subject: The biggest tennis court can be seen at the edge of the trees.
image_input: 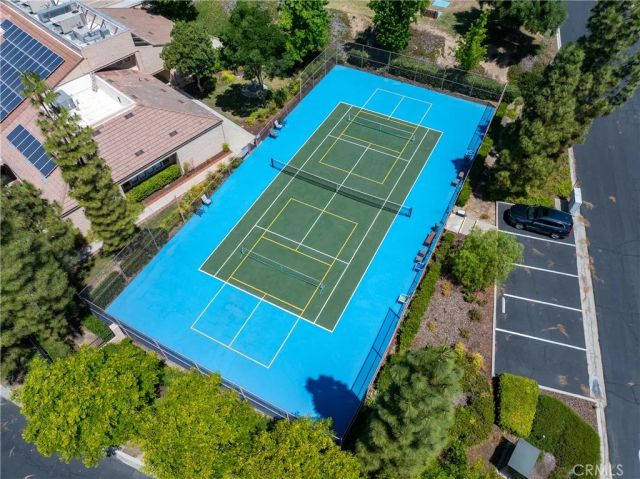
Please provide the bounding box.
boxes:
[99,64,496,443]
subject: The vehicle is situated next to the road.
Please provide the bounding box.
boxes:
[508,203,577,239]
